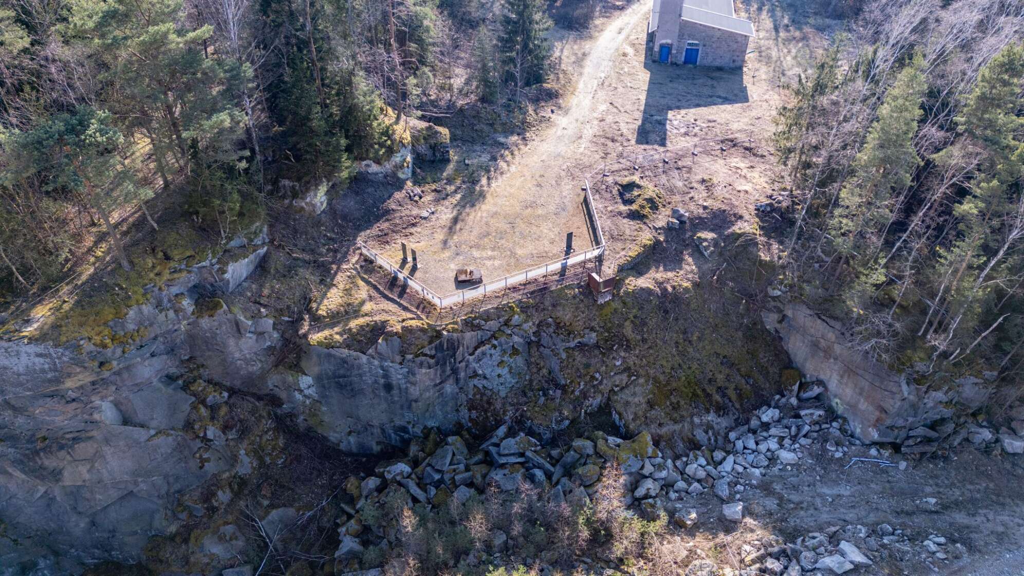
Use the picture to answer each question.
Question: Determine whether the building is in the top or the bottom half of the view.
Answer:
top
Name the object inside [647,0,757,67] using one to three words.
building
